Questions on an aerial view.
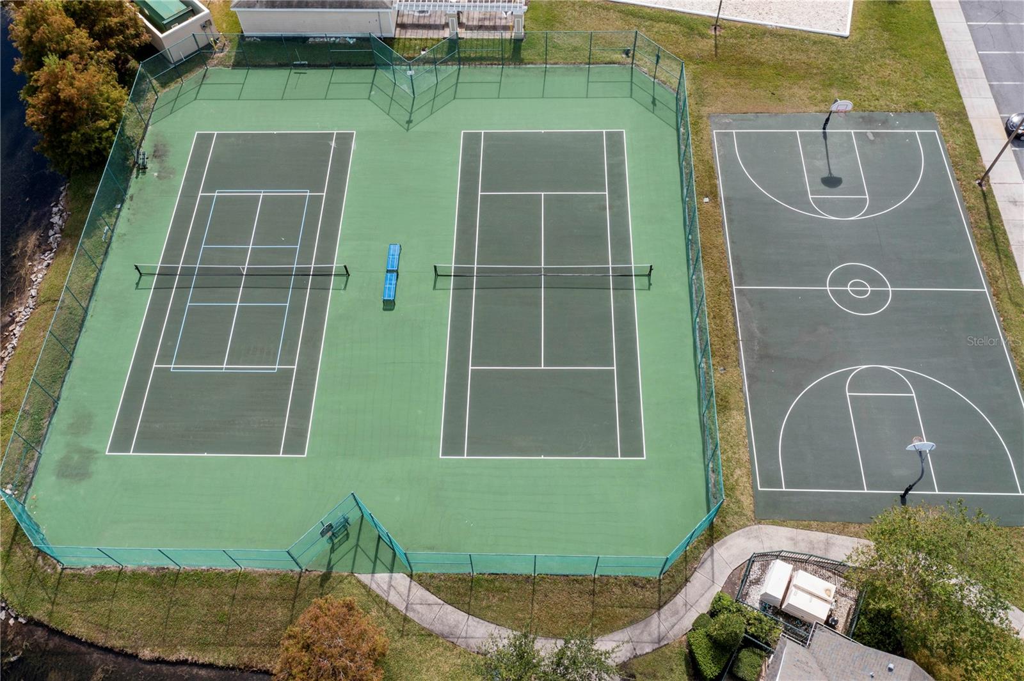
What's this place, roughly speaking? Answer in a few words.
sports ground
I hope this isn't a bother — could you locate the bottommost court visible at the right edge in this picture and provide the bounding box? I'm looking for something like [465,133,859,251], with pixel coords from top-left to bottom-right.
[710,113,1024,523]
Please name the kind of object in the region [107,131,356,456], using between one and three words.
tennis court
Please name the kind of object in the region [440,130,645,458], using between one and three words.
tennis court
